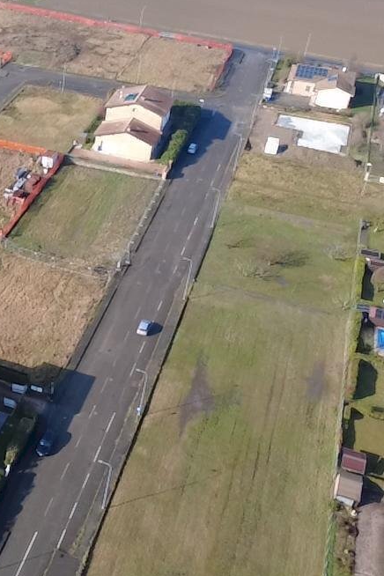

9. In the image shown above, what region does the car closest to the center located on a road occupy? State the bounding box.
[136,317,152,334]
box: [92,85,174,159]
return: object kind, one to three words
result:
house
